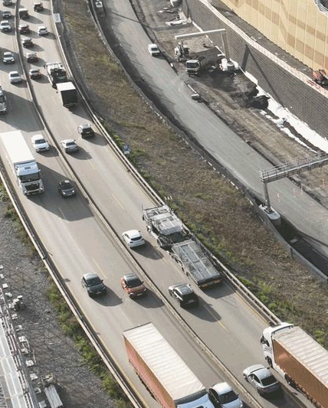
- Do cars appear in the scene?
Yes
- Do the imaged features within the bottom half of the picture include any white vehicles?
Yes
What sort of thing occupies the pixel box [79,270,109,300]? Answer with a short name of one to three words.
car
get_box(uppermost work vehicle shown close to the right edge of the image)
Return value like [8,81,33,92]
[311,62,328,84]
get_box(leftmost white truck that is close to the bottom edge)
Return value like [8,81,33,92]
[123,323,219,408]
